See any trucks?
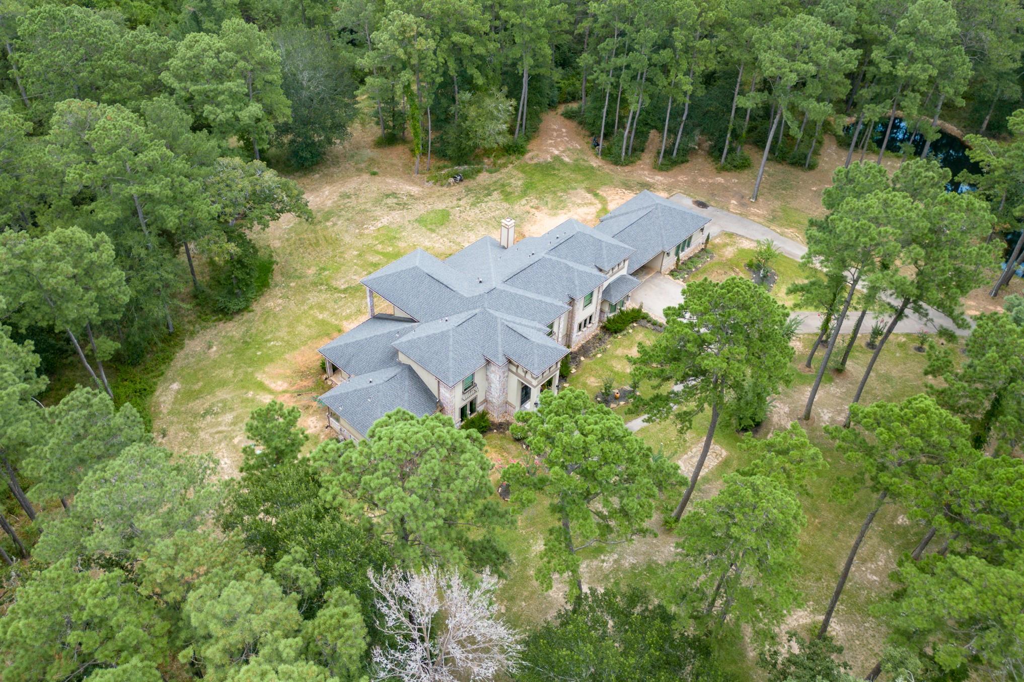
No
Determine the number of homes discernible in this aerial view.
1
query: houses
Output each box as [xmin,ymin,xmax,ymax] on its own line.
[317,189,711,461]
